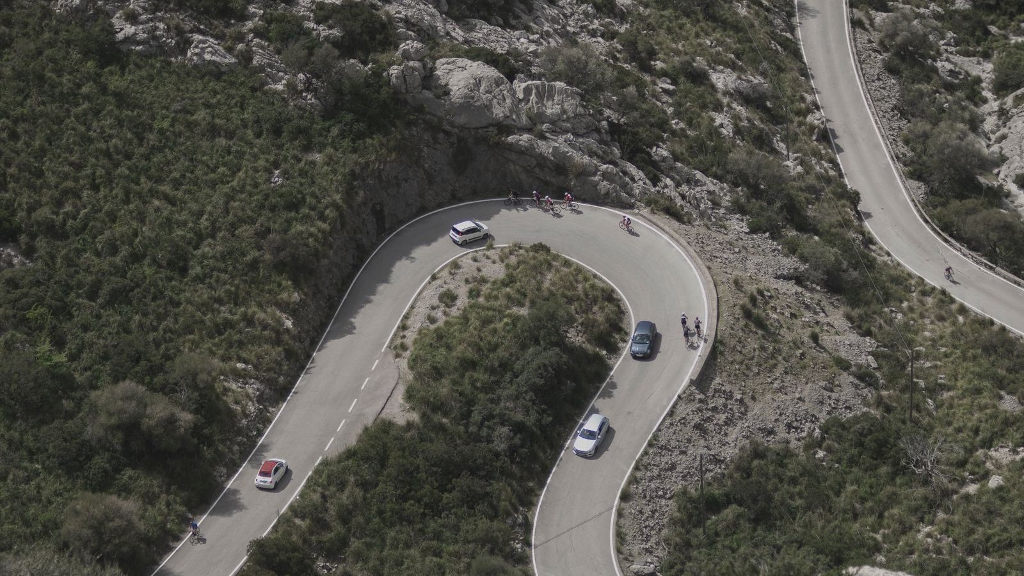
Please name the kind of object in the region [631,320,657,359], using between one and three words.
car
